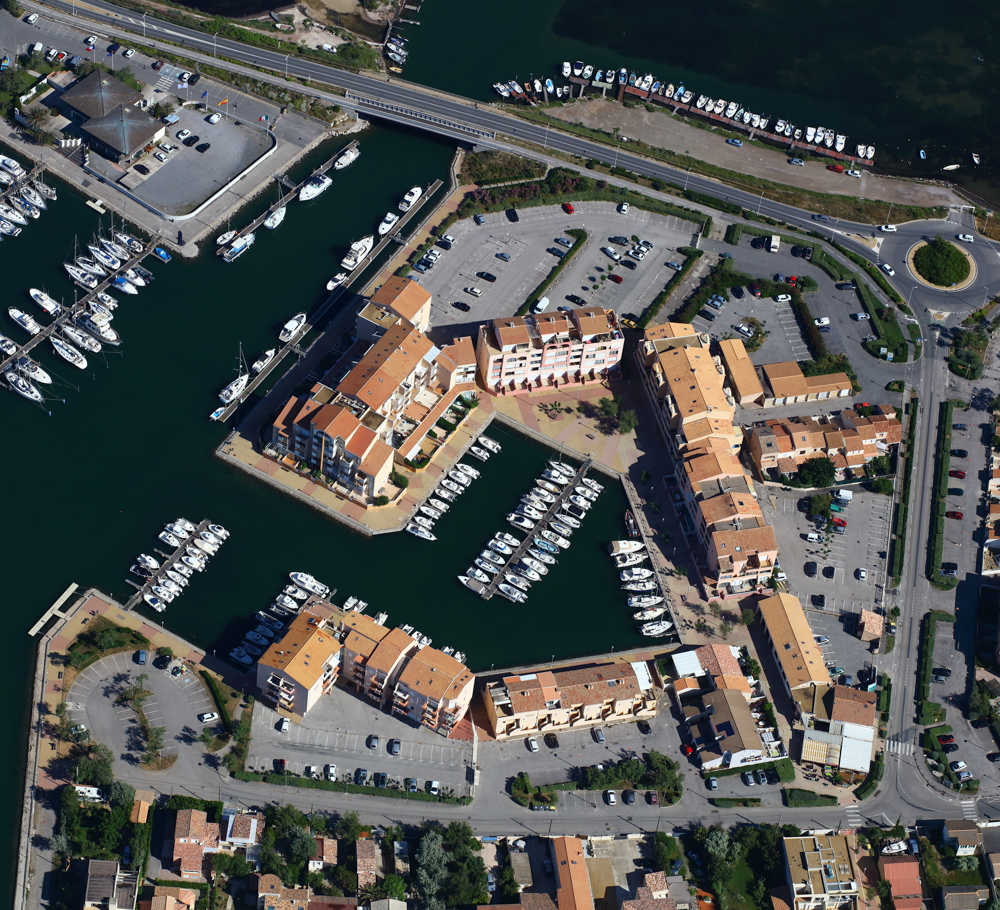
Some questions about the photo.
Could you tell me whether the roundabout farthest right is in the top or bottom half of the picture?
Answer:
top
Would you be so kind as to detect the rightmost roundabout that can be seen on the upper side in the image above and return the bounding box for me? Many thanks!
[908,240,976,289]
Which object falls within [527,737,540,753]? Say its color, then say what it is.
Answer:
white vehicle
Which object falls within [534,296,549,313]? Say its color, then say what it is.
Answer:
white vehicle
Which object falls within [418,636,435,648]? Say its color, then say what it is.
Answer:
white boat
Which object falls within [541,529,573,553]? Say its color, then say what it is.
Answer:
white boat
